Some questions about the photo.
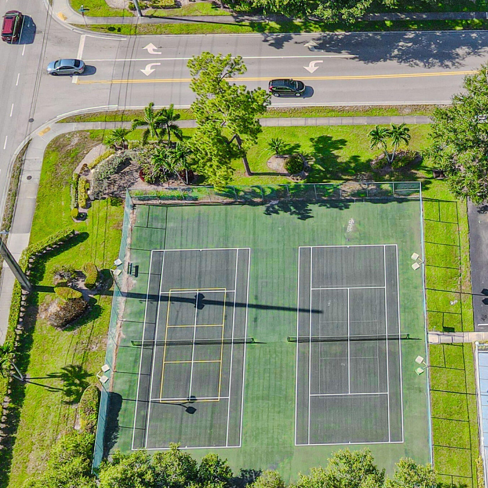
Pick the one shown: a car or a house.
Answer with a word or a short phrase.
car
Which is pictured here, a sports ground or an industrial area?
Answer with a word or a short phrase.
sports ground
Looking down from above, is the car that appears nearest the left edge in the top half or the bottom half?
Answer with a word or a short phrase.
top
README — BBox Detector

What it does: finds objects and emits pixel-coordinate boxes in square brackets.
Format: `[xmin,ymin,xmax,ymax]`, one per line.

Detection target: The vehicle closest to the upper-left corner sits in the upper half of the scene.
[1,14,21,45]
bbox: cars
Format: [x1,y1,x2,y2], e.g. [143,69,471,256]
[269,77,307,99]
[1,14,21,45]
[47,58,86,77]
